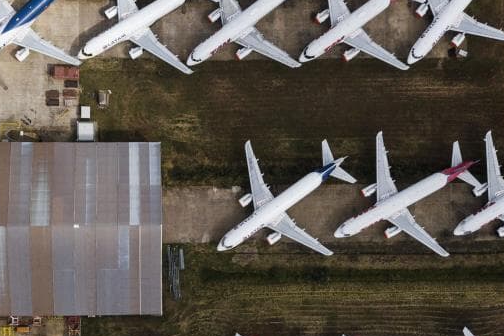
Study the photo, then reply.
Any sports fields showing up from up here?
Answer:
No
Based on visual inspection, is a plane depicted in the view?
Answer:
Yes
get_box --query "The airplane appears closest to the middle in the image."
[217,138,359,256]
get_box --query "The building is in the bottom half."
[0,141,163,317]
